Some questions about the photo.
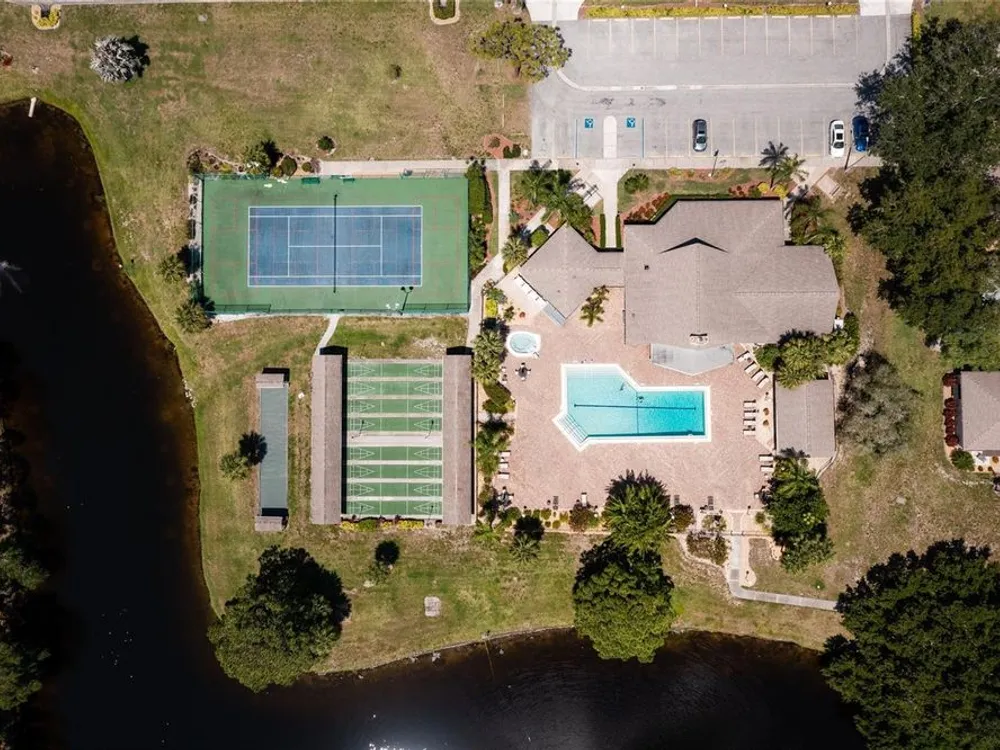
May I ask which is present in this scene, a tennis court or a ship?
tennis court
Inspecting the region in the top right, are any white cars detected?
Yes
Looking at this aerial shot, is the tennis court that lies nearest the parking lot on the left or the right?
left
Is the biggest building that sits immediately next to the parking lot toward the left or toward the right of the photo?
right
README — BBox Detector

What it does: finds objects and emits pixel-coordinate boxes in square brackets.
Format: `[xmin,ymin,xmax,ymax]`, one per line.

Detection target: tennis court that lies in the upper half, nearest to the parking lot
[203,177,469,313]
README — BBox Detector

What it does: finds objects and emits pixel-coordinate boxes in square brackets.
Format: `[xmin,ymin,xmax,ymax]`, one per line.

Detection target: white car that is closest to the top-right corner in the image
[830,119,849,155]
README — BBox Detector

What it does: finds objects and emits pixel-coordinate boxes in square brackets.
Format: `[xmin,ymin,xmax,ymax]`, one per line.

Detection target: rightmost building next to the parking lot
[623,199,839,350]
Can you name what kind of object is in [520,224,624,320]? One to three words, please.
building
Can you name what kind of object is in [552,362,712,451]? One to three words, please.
swimming pool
